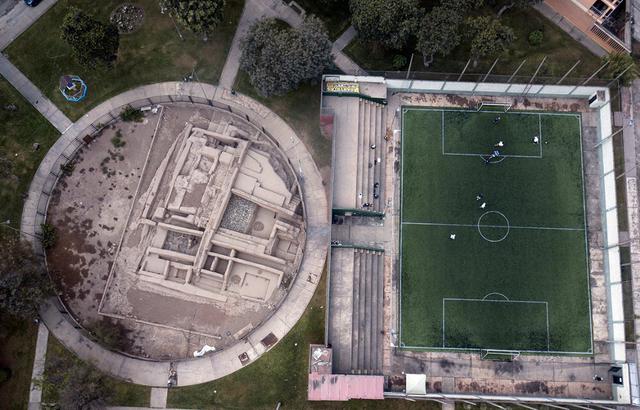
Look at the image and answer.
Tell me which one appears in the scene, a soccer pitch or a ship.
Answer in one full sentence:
Looking from above, you can make out a soccer pitch.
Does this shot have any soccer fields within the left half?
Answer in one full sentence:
No, I can find no soccer field within the left half.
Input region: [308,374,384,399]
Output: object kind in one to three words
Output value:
shed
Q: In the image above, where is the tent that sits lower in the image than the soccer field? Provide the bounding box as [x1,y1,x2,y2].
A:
[404,373,426,394]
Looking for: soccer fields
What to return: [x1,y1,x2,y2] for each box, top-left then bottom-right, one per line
[398,106,594,359]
